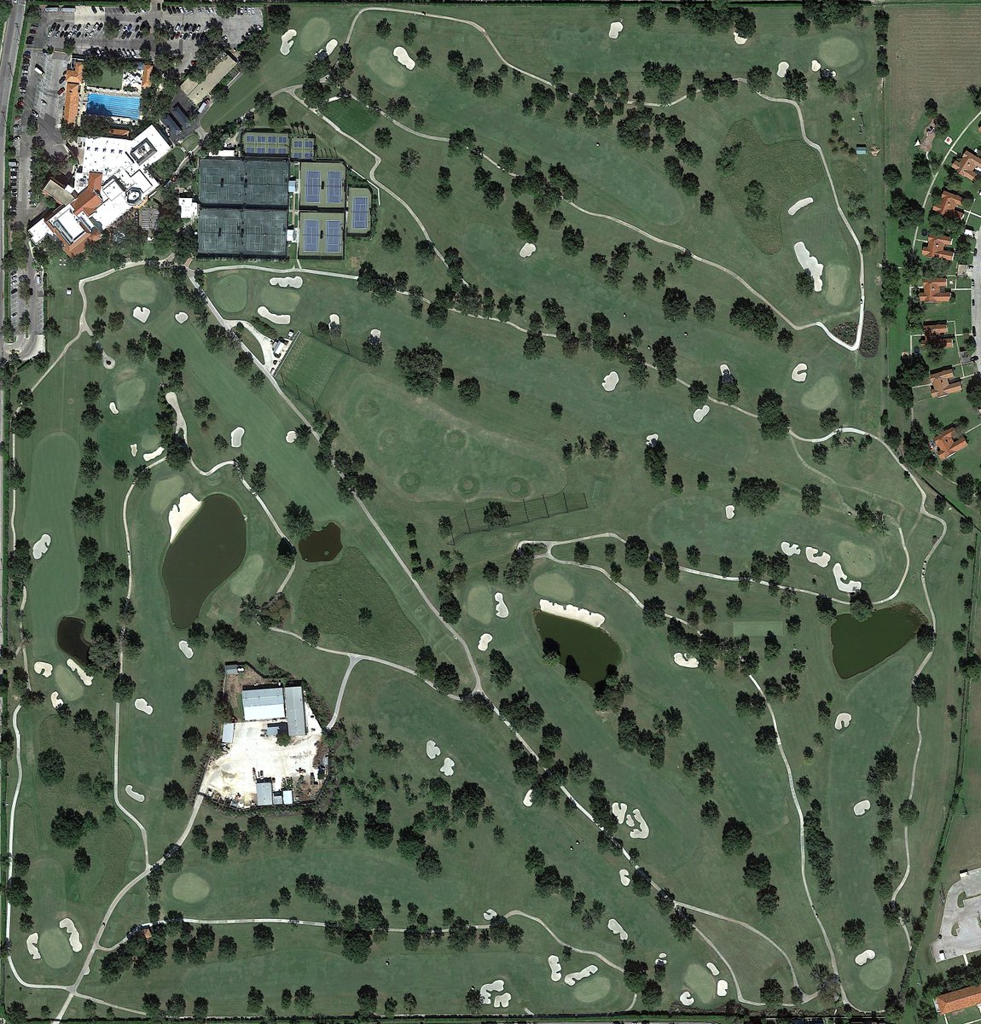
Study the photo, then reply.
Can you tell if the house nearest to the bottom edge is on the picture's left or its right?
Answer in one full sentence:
The house nearest to the bottom edge sits on the right side.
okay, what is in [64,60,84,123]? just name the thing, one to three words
building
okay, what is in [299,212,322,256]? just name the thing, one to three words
tennis court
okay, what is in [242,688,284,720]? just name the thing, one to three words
shed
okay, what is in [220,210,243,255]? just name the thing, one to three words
tennis court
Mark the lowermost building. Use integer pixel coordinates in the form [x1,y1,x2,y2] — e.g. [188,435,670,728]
[934,985,981,1015]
